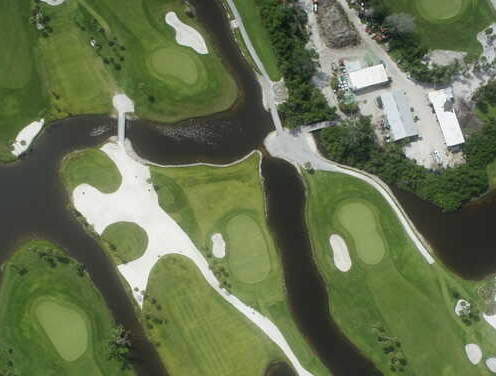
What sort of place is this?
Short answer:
golf course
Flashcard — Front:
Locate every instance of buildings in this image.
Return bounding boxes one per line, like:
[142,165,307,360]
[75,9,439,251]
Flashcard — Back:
[380,89,417,142]
[349,63,388,91]
[427,87,464,147]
